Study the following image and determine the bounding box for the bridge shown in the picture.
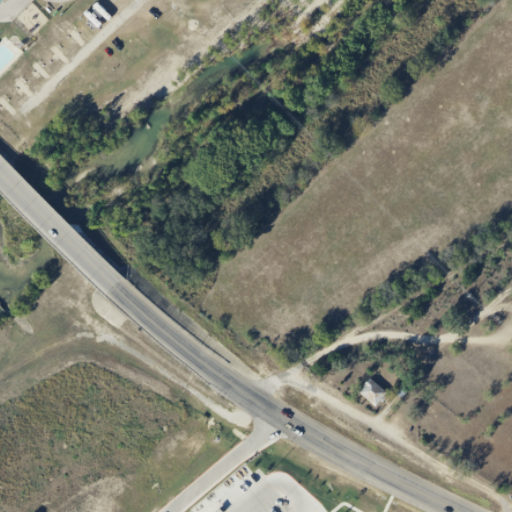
[0,155,122,296]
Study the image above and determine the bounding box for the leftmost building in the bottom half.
[361,380,386,405]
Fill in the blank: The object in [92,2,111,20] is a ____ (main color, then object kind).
white vehicle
